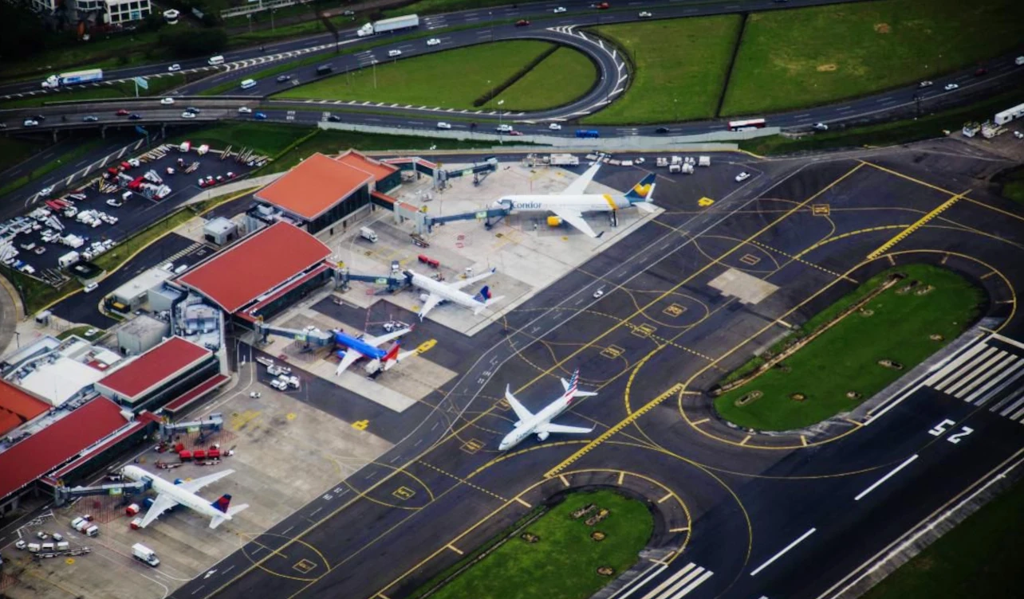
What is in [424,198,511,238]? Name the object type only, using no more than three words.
jet bridge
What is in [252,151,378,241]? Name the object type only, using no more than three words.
building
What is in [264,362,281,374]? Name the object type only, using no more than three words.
vehicle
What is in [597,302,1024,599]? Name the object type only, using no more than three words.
runway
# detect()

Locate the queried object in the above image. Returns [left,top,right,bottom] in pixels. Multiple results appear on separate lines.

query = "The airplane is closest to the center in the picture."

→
[413,266,504,318]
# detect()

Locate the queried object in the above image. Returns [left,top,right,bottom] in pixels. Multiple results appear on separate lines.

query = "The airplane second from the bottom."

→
[499,371,596,452]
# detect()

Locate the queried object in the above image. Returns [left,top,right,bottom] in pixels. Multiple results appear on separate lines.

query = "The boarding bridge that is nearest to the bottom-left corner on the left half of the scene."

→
[57,469,158,514]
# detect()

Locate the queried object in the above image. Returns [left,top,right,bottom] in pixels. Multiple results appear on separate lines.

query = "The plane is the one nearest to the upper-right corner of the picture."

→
[500,154,655,241]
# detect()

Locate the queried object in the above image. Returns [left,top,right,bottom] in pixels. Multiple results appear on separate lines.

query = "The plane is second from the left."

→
[333,324,418,379]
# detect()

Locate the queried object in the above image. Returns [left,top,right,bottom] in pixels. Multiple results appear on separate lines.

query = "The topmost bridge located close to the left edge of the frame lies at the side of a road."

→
[0,93,319,142]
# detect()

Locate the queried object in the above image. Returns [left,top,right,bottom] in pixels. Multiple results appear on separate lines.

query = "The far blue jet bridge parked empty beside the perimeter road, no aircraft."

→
[437,154,504,190]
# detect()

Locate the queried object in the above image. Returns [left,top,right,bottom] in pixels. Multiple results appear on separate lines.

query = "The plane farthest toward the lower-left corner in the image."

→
[123,468,246,528]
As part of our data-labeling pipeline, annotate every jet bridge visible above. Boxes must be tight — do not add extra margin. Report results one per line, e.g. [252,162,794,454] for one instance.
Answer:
[57,469,158,514]
[424,198,511,238]
[160,409,230,448]
[437,154,504,190]
[339,267,419,296]
[257,322,343,352]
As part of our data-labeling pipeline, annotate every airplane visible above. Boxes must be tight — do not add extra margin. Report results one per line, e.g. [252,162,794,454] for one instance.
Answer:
[500,154,655,241]
[123,468,246,528]
[413,266,504,318]
[333,324,418,379]
[499,371,596,452]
